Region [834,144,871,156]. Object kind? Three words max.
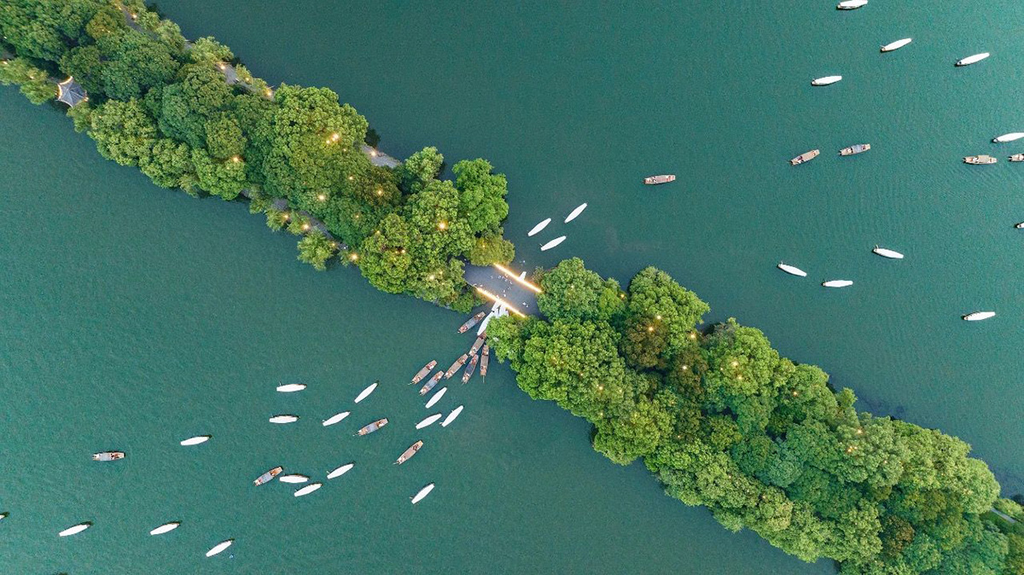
boat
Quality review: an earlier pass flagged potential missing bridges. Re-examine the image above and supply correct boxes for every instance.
[464,258,548,322]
